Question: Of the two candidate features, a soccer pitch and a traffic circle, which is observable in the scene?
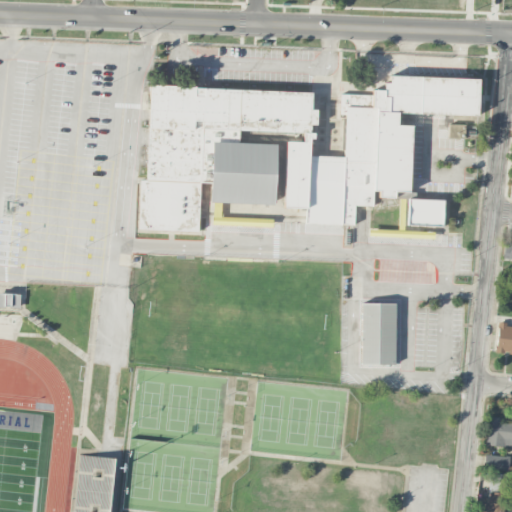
soccer pitch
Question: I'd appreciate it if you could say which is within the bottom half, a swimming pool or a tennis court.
tennis court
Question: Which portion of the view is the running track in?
bottom left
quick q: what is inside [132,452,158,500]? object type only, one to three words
tennis court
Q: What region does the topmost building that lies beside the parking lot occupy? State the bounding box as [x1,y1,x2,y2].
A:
[138,75,484,231]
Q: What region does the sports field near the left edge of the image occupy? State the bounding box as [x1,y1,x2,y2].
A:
[0,410,54,512]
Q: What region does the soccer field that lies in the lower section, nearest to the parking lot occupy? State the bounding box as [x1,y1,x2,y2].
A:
[146,266,330,364]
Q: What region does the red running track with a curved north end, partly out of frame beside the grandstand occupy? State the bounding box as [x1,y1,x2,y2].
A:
[0,337,76,512]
